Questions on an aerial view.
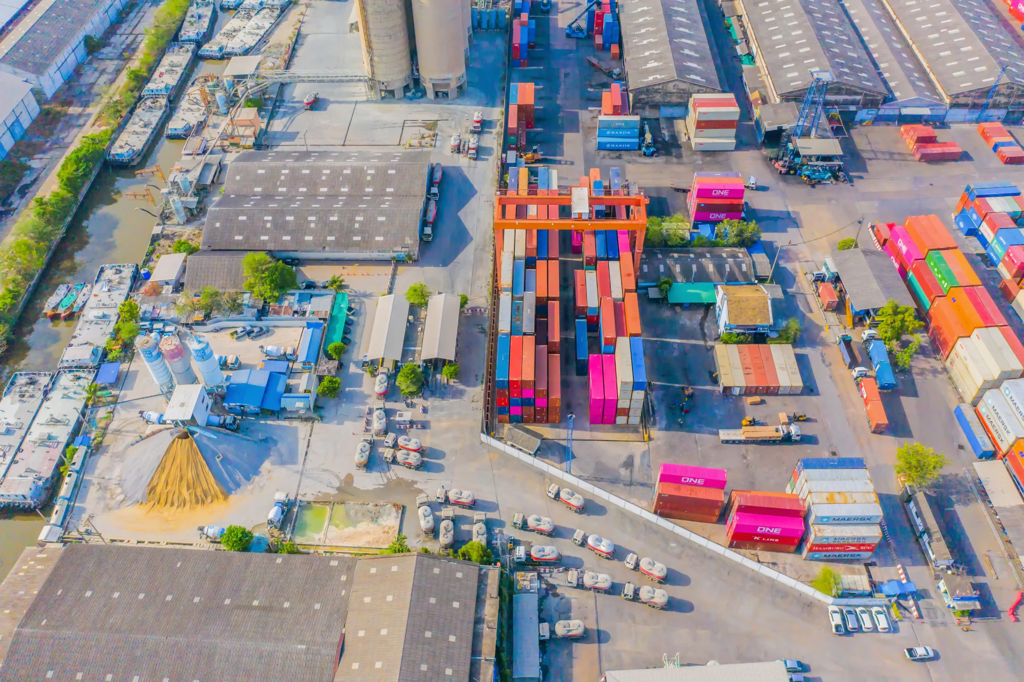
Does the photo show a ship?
Yes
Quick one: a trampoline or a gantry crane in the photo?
gantry crane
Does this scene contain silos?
Yes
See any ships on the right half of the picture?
No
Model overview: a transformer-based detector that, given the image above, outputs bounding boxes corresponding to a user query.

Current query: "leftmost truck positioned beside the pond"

[265,494,292,537]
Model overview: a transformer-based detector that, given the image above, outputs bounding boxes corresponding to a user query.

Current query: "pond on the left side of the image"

[289,498,404,550]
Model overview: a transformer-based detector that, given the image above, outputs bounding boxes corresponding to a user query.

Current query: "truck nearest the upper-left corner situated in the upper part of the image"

[303,92,324,113]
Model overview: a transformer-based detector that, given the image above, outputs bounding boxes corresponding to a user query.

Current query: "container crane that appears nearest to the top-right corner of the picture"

[493,182,650,303]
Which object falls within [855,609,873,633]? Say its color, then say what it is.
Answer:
white car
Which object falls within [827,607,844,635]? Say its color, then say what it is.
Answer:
white vehicle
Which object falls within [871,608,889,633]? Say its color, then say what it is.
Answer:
white car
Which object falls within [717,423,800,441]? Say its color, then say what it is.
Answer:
white vehicle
